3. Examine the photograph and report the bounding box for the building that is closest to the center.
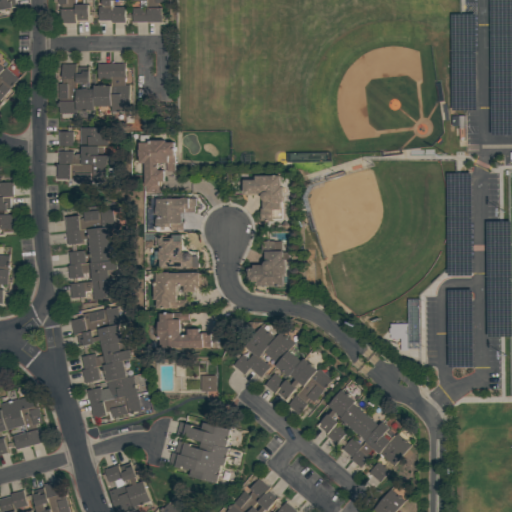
[248,241,288,287]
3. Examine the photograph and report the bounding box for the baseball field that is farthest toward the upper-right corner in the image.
[338,46,438,148]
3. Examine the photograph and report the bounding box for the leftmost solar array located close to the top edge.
[450,12,476,110]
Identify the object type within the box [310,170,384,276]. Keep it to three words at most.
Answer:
baseball field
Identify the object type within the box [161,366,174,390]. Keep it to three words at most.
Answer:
swimming pool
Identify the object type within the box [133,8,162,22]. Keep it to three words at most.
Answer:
house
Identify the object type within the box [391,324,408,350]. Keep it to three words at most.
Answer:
building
